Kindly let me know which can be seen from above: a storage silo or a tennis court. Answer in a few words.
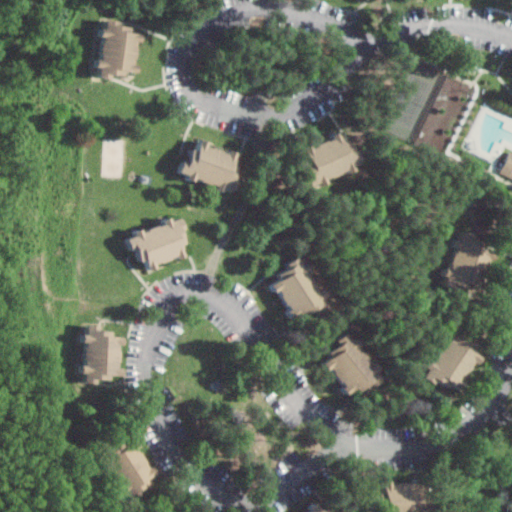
tennis court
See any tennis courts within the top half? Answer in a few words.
Yes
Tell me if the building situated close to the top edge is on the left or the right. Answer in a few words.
left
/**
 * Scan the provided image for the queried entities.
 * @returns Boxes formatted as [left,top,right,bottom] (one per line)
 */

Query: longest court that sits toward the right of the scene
[382,72,440,142]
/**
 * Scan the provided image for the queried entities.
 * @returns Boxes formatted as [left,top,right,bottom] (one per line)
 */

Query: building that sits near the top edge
[98,20,142,80]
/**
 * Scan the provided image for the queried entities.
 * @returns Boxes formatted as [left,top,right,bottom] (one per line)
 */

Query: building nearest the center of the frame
[270,258,327,319]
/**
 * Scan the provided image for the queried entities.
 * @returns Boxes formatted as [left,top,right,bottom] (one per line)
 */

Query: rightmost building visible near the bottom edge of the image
[380,480,434,512]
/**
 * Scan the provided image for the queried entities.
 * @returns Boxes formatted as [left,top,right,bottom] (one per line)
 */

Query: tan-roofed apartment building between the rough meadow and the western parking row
[82,326,124,384]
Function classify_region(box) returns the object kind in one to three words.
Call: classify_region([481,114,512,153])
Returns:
swimming pool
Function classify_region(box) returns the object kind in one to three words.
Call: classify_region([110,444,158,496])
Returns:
building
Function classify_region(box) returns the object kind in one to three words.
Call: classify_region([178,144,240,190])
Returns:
building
